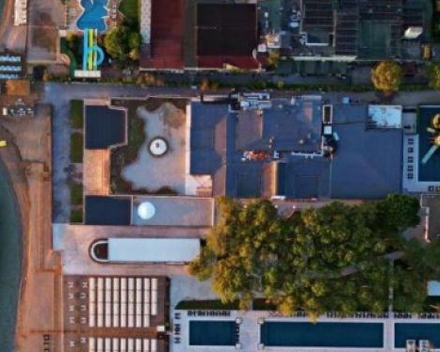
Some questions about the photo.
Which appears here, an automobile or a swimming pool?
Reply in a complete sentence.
Of the two, only a swimming pool appears.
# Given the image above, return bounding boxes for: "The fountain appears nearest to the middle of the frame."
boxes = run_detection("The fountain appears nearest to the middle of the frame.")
[147,136,169,157]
